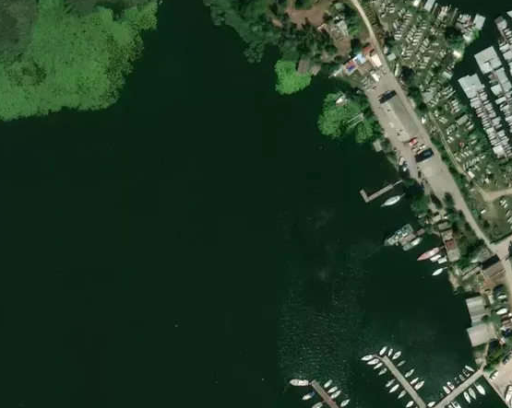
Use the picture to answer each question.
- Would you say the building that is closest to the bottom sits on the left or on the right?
right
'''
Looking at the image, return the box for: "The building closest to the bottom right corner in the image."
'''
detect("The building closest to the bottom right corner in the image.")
[467,323,496,346]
